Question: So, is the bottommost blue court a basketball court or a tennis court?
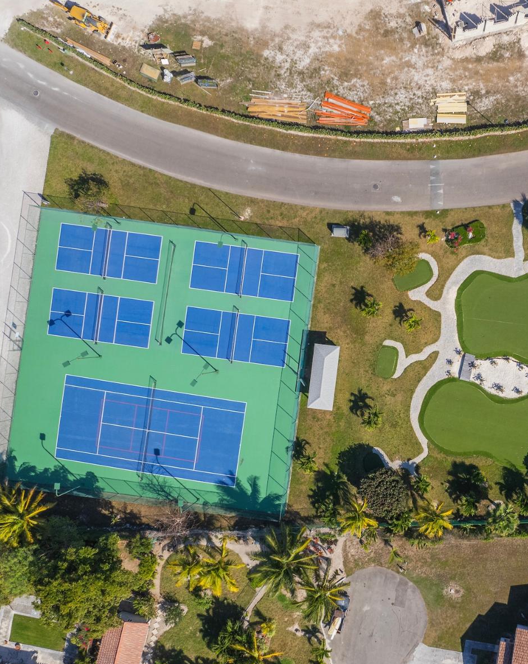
tennis court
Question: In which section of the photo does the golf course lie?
right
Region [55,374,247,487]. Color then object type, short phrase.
blue tennis court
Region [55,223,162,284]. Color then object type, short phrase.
blue sports court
